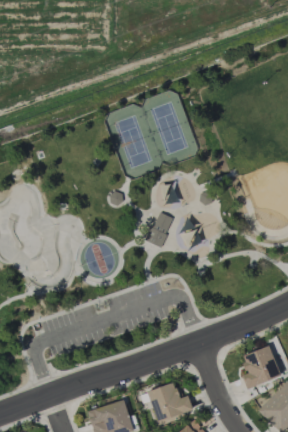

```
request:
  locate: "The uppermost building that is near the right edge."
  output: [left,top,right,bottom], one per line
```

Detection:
[240,346,280,389]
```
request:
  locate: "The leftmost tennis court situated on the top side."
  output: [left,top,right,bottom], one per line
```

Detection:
[108,104,162,178]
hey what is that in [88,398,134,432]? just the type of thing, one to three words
house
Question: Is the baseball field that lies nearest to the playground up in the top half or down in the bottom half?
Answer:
top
